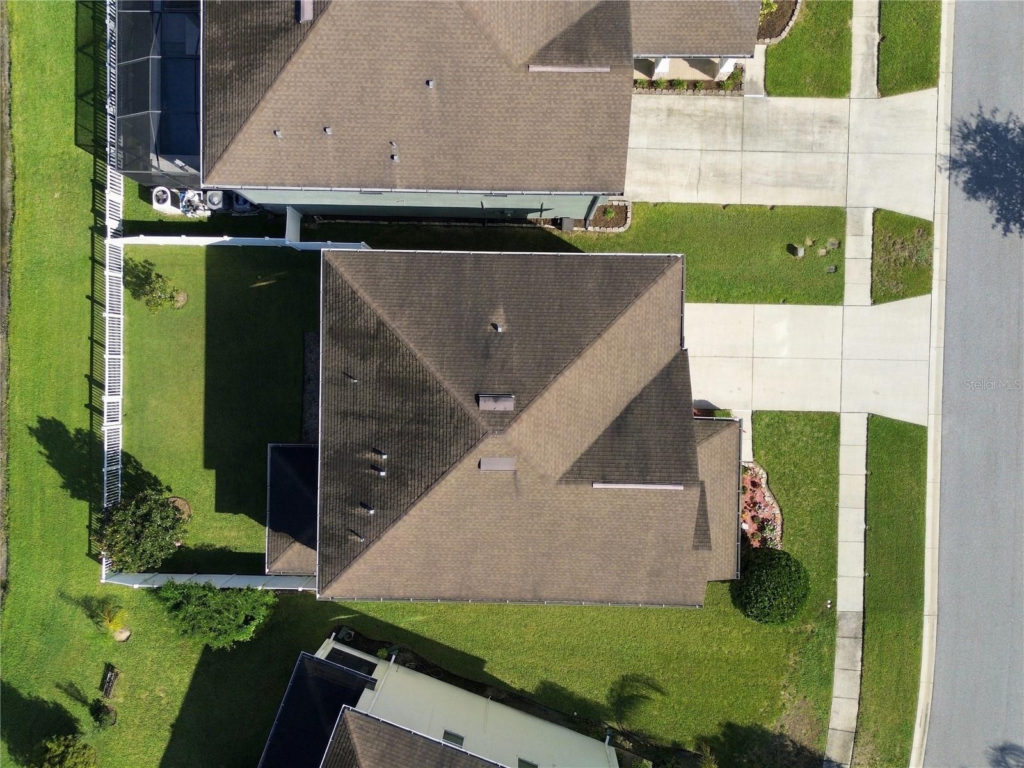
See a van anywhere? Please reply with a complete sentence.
No, the frame has no van in it.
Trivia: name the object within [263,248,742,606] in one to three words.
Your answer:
house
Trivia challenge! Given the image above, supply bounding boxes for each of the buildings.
[263,248,742,606]
[203,0,760,225]
[259,626,615,768]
